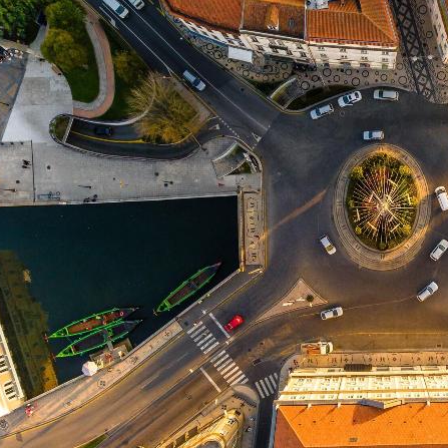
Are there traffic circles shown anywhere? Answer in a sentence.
Yes, a traffic circle appears in the view.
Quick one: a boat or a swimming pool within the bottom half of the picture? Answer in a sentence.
The one visible within the bottom half of the picture is a boat.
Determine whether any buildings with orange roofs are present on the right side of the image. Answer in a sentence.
Yes, I can see a building with an orange roof on the right side of the image.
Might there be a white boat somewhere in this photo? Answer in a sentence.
No, this view has no white boat in it.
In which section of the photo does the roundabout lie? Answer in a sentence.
The roundabout is in the right part of the image.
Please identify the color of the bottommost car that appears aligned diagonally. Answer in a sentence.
In this view, the bottommost car that appears aligned diagonally is red.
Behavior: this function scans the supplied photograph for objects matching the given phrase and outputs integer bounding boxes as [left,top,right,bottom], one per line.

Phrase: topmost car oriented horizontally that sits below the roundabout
[318,306,344,320]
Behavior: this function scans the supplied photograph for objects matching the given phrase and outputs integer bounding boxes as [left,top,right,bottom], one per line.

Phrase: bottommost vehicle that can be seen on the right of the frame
[300,342,332,357]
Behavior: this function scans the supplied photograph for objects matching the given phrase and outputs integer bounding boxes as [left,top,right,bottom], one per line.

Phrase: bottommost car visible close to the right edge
[415,281,439,303]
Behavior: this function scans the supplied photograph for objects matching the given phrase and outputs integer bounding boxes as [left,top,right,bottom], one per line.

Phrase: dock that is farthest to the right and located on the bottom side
[89,340,134,366]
